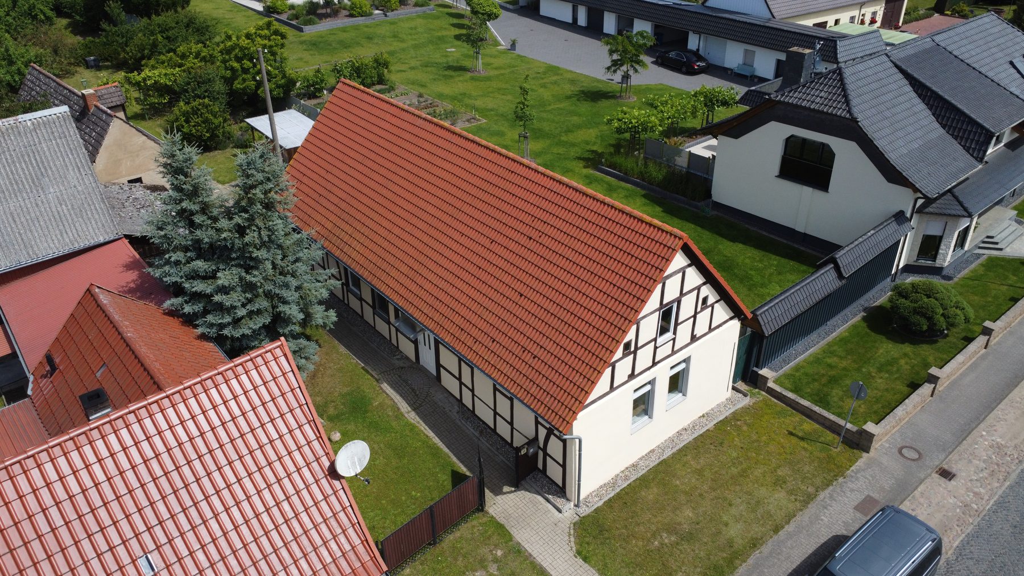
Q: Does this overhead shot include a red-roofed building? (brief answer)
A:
Yes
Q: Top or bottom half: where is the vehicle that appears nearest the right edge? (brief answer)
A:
bottom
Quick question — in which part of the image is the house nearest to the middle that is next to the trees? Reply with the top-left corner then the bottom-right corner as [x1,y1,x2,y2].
[271,78,757,502]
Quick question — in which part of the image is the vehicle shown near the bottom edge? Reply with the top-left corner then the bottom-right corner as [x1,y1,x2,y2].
[816,507,939,576]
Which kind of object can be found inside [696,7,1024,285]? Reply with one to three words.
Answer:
house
